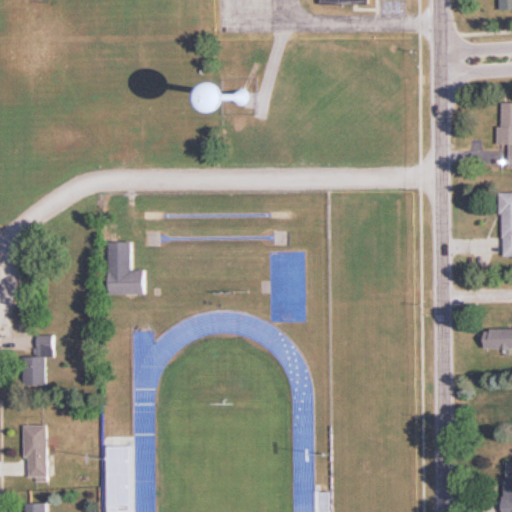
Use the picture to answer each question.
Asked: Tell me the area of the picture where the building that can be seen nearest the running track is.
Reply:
left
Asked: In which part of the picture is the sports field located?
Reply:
bottom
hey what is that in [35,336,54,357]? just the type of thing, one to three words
building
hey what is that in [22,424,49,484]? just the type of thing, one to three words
house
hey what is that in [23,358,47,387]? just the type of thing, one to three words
house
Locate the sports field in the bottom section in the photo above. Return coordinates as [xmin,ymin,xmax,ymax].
[156,332,294,512]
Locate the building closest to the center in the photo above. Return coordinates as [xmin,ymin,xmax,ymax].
[107,242,146,296]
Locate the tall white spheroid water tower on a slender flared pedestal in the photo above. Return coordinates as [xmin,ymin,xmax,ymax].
[190,80,250,112]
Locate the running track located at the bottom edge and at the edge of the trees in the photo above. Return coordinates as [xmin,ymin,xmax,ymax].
[132,310,316,512]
